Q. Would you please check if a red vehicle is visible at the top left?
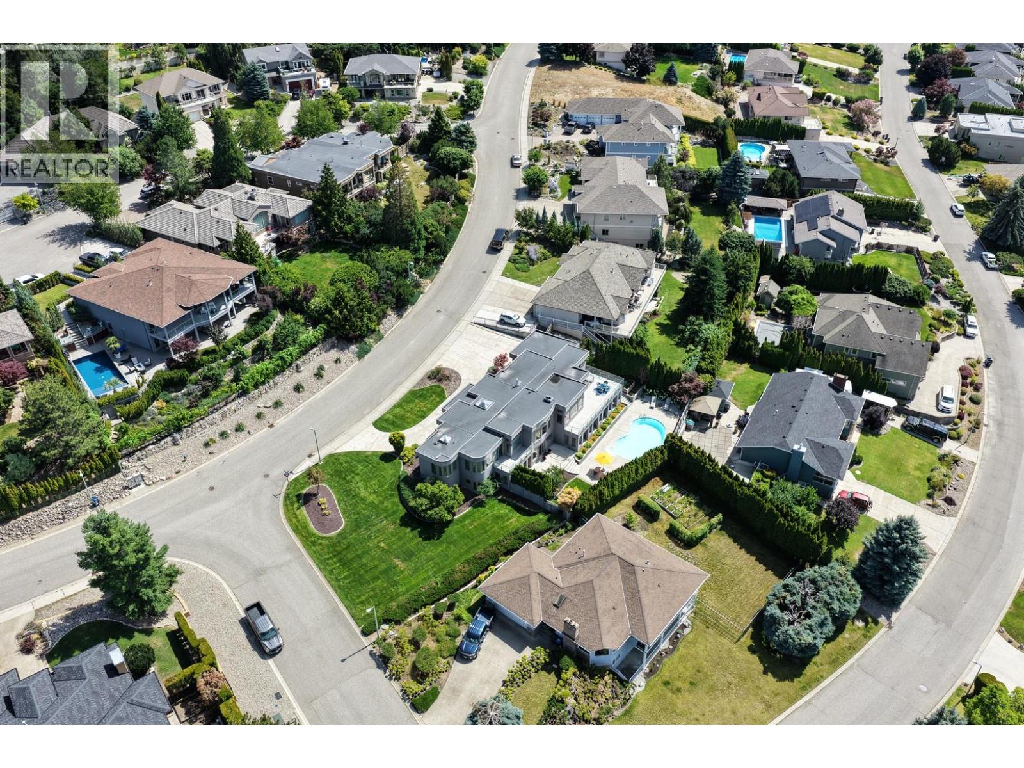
No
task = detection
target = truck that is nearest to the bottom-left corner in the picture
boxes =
[240,600,282,653]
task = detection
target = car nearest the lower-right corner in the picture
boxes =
[834,489,877,514]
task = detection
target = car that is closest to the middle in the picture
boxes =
[495,307,529,330]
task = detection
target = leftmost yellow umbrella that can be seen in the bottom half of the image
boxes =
[594,452,615,472]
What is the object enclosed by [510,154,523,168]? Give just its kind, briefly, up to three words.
vehicle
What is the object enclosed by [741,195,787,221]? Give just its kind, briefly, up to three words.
gazebo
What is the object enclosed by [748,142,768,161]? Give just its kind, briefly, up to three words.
swimming pool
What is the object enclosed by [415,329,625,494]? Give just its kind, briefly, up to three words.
house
